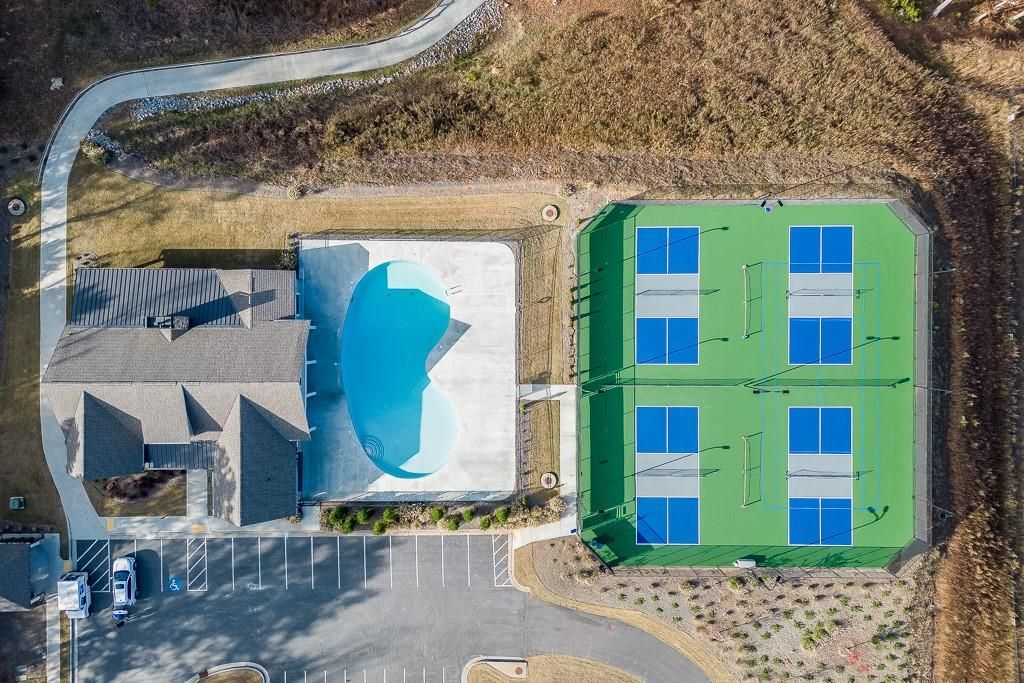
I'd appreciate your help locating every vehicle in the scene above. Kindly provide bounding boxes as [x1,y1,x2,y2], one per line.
[109,555,137,613]
[58,570,93,619]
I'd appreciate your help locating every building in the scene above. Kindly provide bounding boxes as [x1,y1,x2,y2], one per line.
[0,538,49,611]
[40,268,318,527]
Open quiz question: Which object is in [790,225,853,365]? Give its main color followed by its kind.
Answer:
blue sports court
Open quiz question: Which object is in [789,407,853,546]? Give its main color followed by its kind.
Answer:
blue sports court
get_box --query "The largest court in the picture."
[580,197,915,568]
